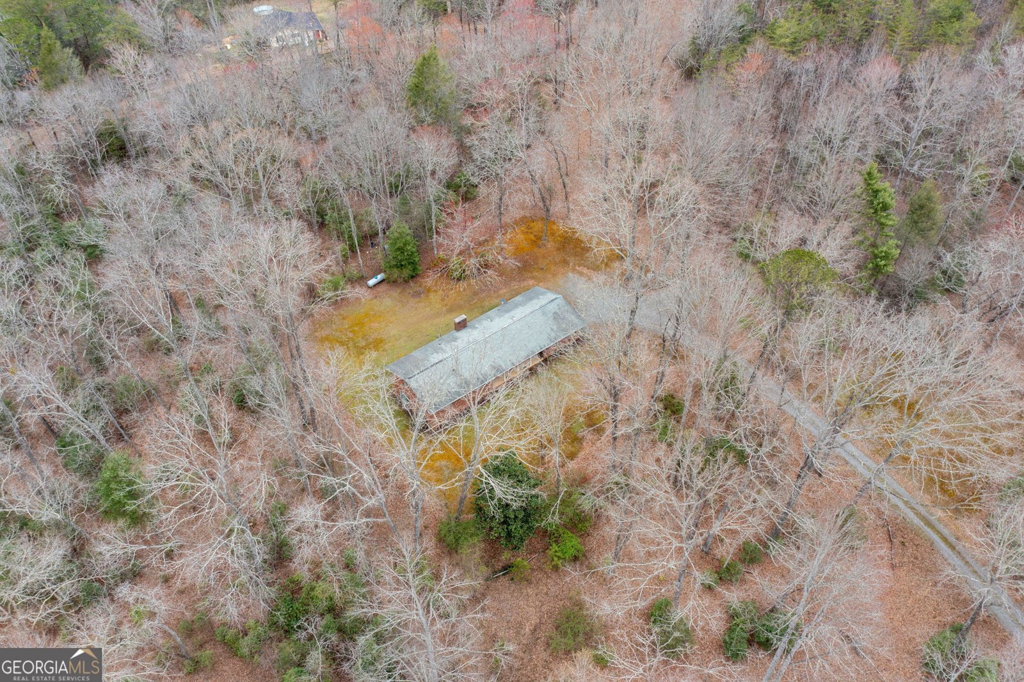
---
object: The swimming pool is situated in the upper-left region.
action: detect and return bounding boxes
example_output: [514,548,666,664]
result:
[249,2,275,17]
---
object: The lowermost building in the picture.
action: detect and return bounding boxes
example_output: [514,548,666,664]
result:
[386,288,586,426]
